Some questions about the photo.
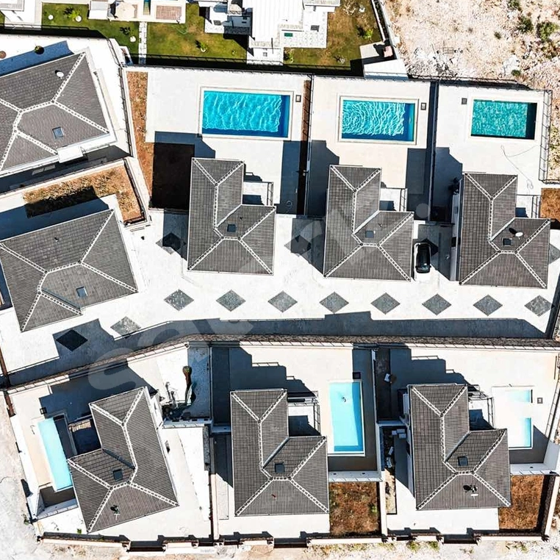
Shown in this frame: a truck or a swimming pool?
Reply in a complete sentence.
The image shows a swimming pool.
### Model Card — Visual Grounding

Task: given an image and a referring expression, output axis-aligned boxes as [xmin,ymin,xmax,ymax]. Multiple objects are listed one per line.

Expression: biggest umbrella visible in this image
[116,1,138,23]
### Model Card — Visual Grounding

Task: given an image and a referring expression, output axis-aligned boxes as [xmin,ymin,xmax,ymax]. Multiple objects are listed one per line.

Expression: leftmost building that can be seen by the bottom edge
[65,380,180,535]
